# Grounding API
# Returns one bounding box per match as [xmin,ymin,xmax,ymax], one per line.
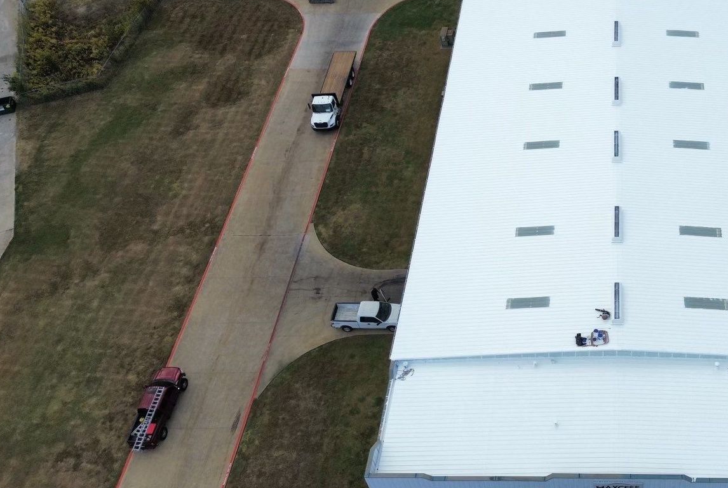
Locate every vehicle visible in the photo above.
[124,365,187,448]
[306,50,357,134]
[330,300,398,333]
